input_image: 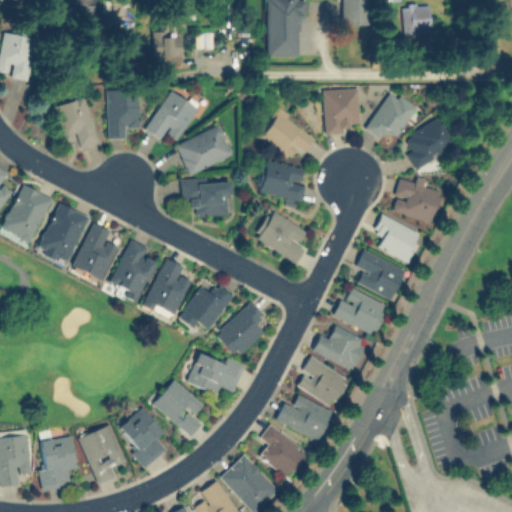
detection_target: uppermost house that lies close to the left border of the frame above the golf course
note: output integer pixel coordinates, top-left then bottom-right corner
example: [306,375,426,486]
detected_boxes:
[0,31,32,80]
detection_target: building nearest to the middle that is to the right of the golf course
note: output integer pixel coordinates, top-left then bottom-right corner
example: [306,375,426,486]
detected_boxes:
[258,212,306,266]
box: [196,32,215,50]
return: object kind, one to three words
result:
building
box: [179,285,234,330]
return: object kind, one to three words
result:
house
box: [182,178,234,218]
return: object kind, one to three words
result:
house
